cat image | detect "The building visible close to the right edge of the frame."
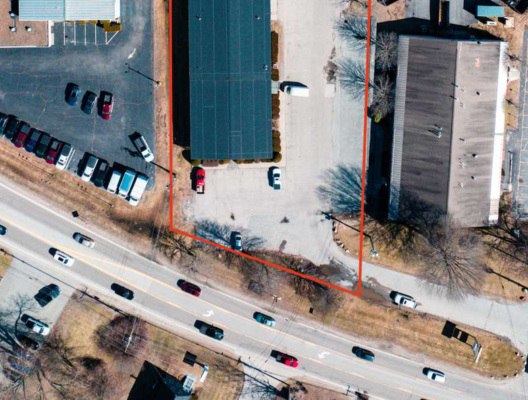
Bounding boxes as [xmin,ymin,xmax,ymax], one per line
[389,36,513,226]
